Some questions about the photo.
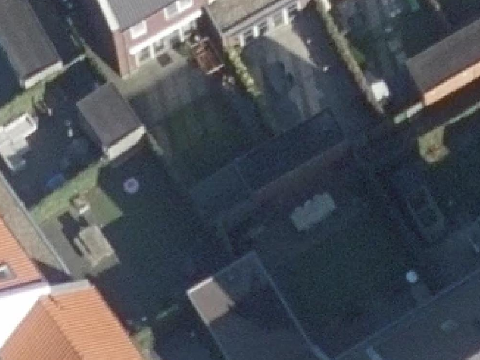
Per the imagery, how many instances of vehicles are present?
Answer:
zero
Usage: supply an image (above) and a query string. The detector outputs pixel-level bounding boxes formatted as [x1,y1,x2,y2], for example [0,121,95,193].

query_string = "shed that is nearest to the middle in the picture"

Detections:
[235,108,346,210]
